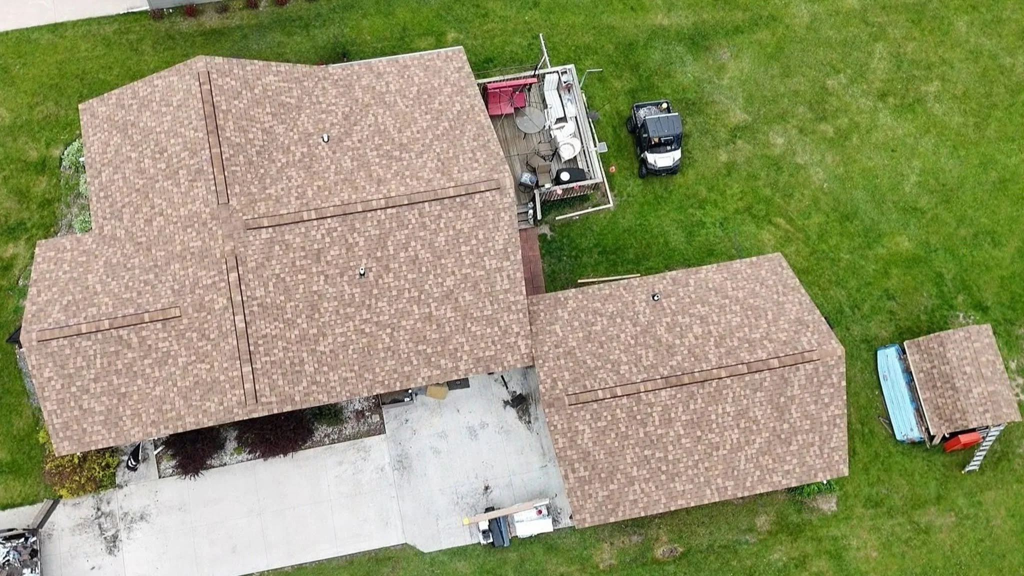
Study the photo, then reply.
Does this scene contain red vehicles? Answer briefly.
No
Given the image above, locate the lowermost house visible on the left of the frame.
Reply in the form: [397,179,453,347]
[8,46,535,456]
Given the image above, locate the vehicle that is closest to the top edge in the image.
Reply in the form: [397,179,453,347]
[627,100,682,179]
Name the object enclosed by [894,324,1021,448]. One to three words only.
shed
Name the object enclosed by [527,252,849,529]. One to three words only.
building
